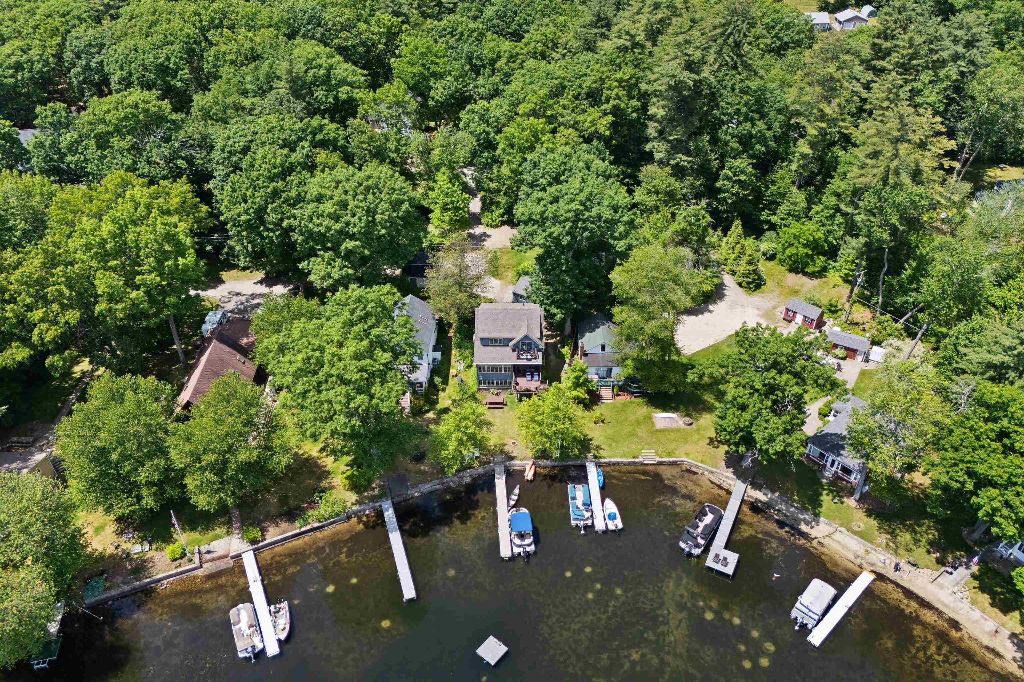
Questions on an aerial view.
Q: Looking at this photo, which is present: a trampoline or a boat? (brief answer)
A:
boat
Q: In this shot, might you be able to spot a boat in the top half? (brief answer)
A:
No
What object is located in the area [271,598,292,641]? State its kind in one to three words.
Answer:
boat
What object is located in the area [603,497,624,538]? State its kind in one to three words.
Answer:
boat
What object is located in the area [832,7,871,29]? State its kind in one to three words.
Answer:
building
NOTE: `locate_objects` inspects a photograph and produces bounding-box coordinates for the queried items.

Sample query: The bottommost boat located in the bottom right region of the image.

[786,574,840,635]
